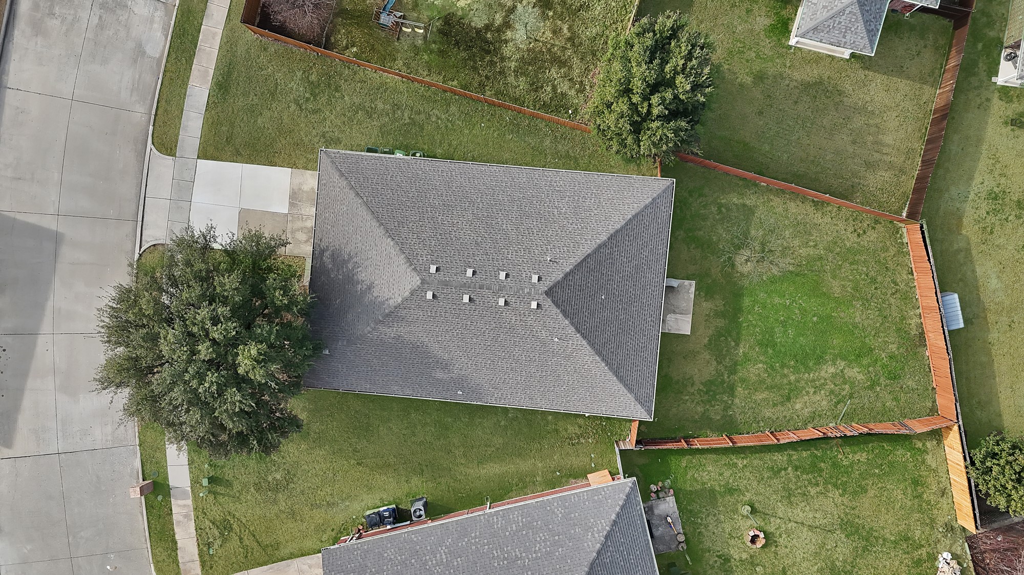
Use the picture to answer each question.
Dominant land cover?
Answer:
grass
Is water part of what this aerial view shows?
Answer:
No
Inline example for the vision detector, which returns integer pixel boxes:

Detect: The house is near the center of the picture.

[295,146,678,422]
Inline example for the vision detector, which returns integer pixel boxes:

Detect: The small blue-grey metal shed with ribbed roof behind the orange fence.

[940,293,962,330]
